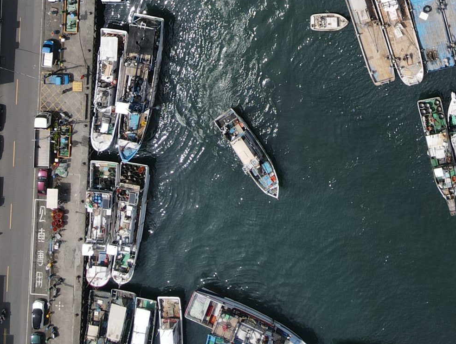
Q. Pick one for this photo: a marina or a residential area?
marina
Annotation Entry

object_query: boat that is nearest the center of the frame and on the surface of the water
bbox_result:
[215,108,282,202]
